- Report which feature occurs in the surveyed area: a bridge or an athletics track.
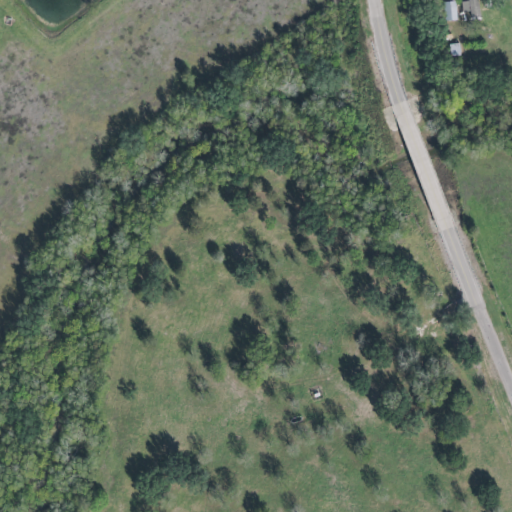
bridge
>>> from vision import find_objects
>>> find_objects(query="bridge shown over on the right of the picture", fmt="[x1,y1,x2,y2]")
[391,99,455,231]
